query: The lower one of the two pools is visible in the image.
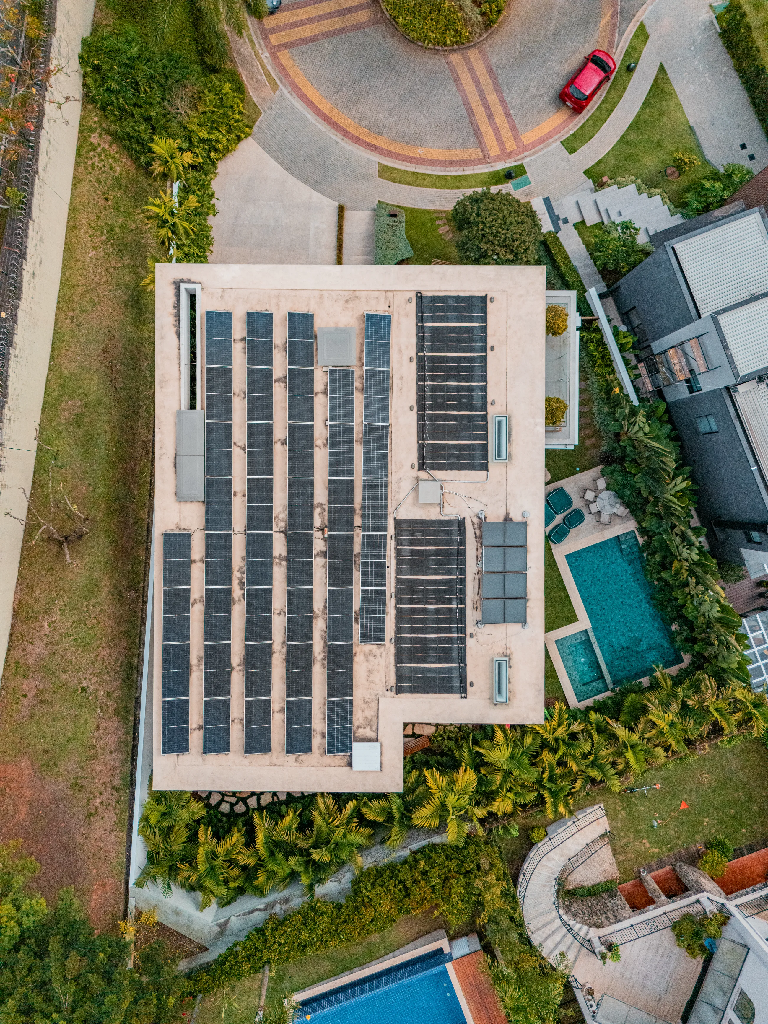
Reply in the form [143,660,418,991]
[284,937,474,1024]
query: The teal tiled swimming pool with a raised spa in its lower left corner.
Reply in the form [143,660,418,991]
[545,518,686,708]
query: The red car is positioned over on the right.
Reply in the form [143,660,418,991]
[561,46,614,113]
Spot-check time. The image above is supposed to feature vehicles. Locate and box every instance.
[257,0,286,16]
[561,46,614,113]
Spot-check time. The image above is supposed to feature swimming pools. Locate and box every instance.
[545,518,686,708]
[284,937,474,1024]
